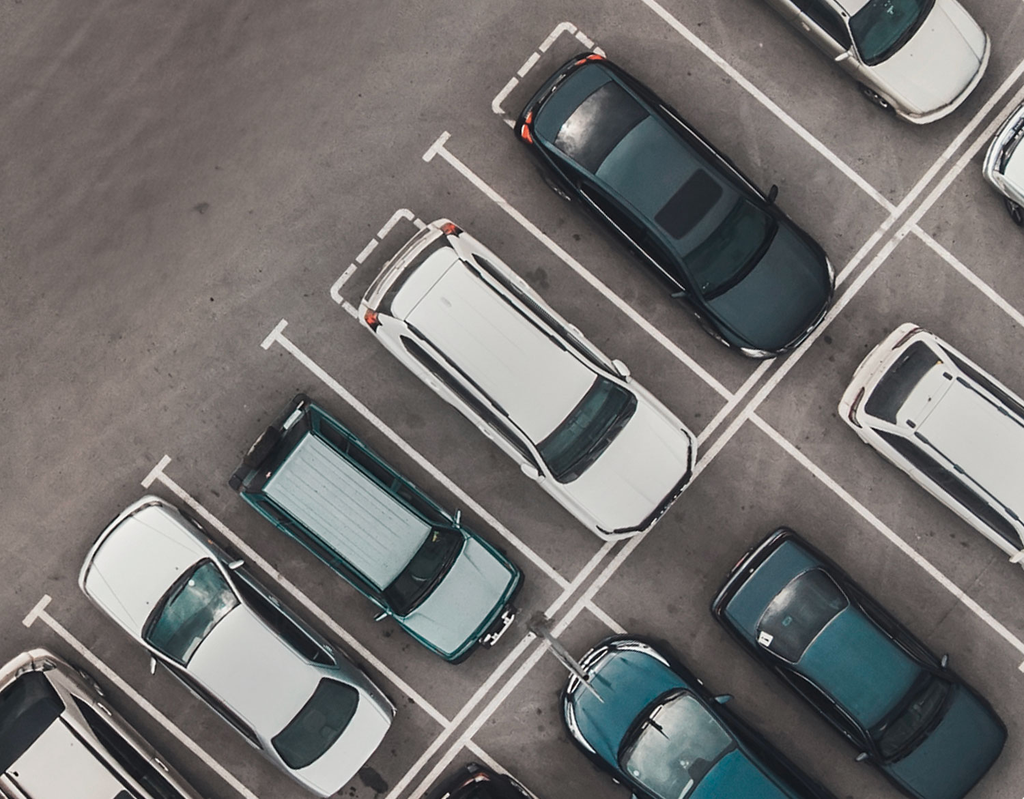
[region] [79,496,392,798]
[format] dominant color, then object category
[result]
white car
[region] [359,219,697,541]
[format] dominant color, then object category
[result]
white car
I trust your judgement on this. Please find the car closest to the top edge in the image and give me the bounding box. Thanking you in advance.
[763,0,989,123]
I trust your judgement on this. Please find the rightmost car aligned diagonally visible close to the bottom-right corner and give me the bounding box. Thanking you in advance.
[710,528,1007,799]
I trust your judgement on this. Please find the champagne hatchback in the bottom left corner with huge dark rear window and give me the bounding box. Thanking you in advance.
[0,648,211,799]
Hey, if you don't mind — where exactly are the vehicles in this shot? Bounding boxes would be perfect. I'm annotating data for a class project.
[763,0,989,123]
[79,496,392,798]
[515,52,833,359]
[710,528,1007,799]
[981,108,1024,222]
[563,637,835,799]
[231,395,524,661]
[359,219,697,541]
[431,762,536,799]
[0,648,211,799]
